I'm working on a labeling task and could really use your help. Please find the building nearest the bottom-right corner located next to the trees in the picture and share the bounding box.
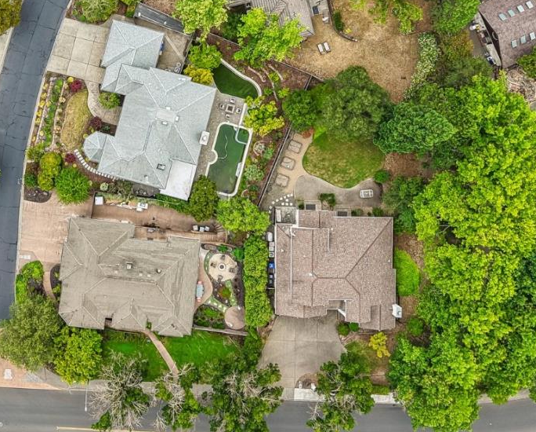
[270,204,397,334]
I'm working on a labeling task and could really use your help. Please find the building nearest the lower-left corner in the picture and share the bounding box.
[57,217,204,339]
